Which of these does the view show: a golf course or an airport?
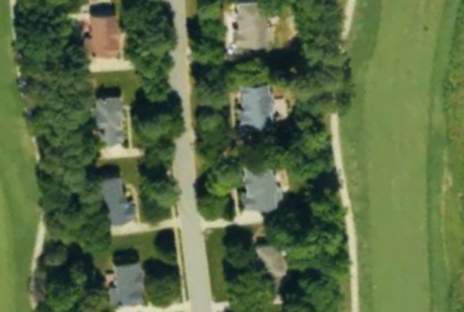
golf course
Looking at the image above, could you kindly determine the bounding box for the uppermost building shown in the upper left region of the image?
[80,16,120,62]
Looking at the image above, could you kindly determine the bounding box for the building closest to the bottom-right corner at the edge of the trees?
[250,242,291,288]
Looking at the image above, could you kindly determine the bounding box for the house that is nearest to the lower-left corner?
[106,263,142,312]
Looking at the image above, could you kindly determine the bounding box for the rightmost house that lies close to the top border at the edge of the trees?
[230,3,274,54]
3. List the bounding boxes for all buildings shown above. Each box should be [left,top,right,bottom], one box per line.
[93,100,123,150]
[80,16,120,62]
[99,176,136,229]
[230,3,274,54]
[237,85,272,132]
[250,242,291,288]
[238,166,283,214]
[106,263,142,312]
